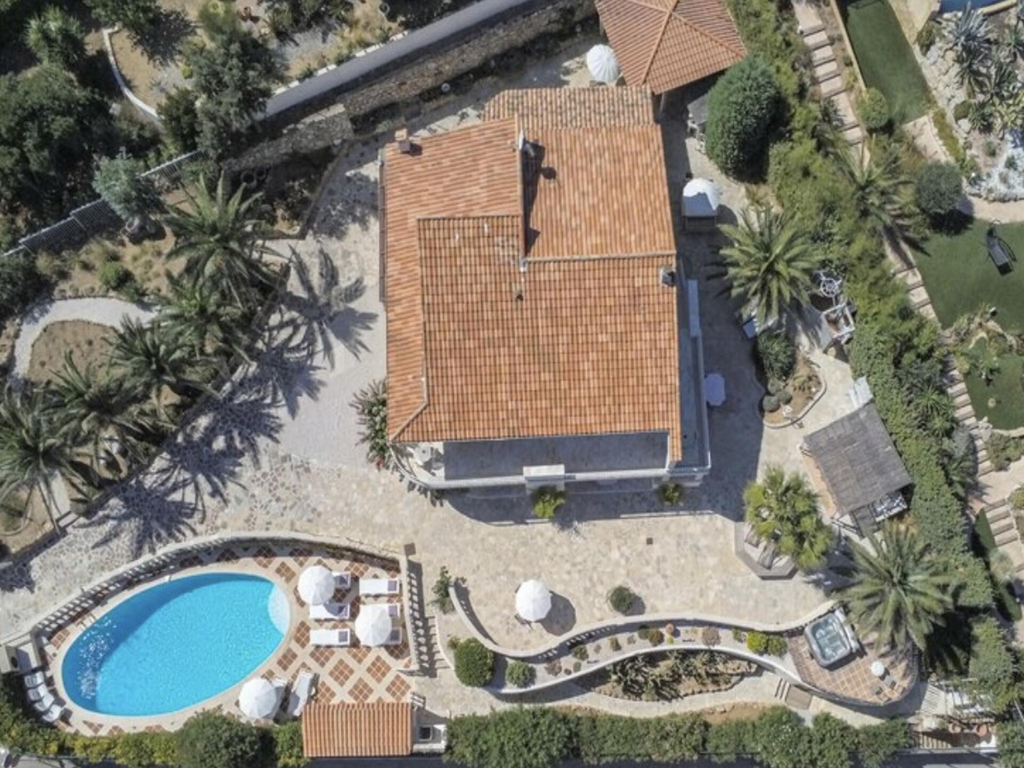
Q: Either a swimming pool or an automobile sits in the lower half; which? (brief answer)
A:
swimming pool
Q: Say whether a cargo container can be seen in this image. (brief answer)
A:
No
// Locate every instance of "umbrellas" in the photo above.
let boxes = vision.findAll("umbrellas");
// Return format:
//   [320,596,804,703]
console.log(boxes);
[355,606,394,645]
[585,51,620,88]
[702,376,729,404]
[298,567,336,604]
[514,581,553,621]
[240,678,280,719]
